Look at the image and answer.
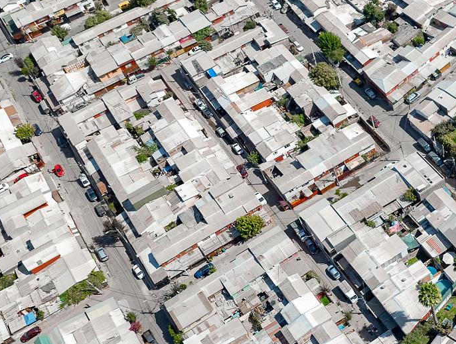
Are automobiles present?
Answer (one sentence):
Yes, the frame does contain an automobile.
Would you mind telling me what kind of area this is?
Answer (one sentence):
The picture captures a residential area.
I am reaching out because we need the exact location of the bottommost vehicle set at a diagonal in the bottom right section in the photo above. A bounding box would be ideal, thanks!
[338,280,359,303]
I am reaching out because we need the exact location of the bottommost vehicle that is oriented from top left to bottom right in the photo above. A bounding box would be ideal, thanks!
[139,327,162,344]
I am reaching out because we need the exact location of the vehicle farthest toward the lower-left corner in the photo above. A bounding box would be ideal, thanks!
[20,324,45,344]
